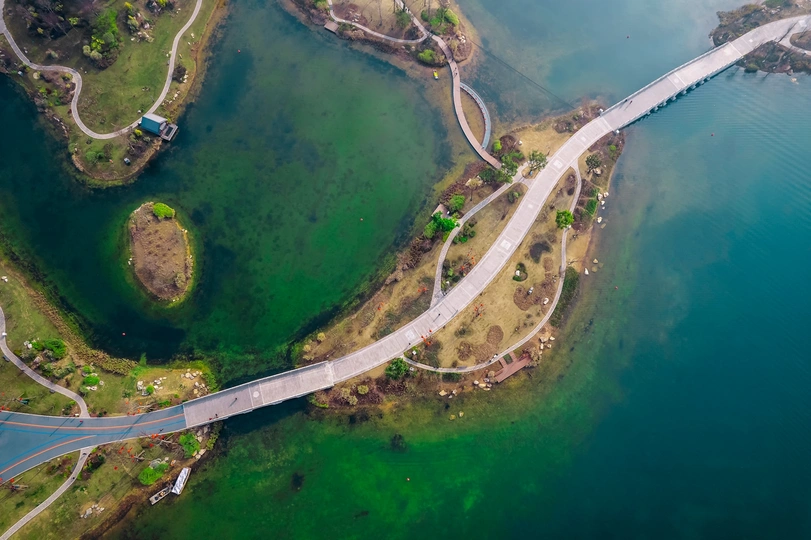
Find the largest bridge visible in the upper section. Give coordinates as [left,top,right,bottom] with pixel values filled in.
[600,40,744,131]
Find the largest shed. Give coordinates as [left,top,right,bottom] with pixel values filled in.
[139,113,168,135]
